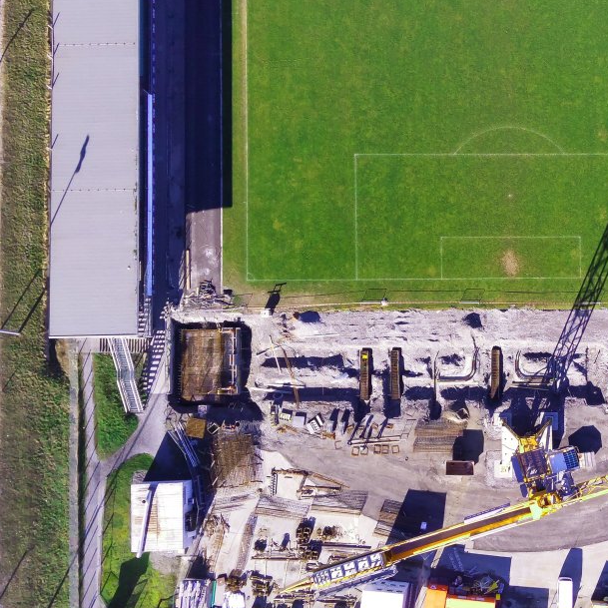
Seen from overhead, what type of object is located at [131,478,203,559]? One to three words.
shed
